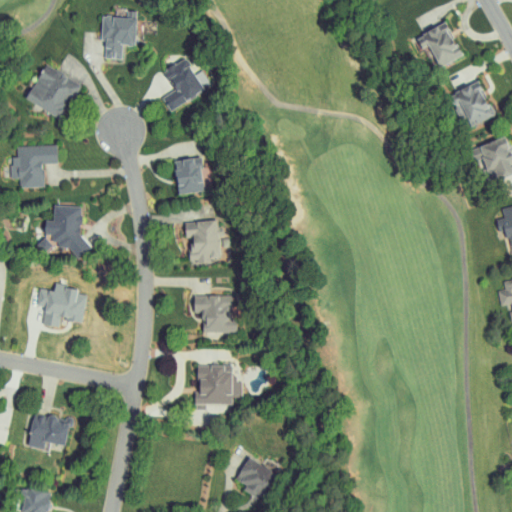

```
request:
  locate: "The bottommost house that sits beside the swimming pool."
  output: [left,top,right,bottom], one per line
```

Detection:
[196,364,243,405]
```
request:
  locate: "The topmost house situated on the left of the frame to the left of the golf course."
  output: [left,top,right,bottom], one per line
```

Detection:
[102,11,138,60]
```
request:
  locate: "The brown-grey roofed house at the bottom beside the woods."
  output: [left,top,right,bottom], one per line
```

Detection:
[236,456,273,500]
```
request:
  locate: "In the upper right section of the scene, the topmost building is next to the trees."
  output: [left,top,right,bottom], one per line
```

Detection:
[415,19,467,69]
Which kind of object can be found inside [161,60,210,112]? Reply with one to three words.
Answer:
house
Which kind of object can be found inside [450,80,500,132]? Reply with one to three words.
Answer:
house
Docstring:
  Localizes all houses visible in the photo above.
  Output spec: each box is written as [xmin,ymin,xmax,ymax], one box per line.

[415,19,467,69]
[450,80,500,132]
[196,364,243,405]
[17,489,54,512]
[236,456,273,500]
[23,414,74,456]
[161,60,210,112]
[470,134,512,182]
[500,280,512,320]
[46,206,94,262]
[26,64,83,120]
[184,216,230,264]
[175,158,206,196]
[194,294,238,333]
[102,11,138,60]
[12,146,58,188]
[37,282,87,328]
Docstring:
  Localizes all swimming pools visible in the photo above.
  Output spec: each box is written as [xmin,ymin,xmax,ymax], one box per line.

[244,366,270,396]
